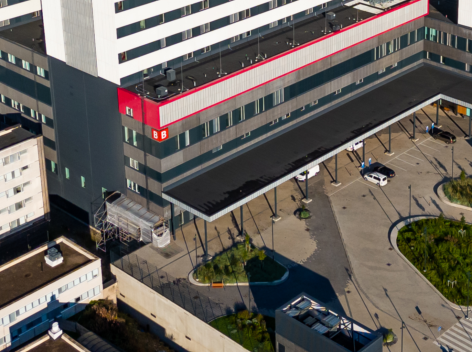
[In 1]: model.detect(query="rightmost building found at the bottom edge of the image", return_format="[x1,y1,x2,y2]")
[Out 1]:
[274,283,391,352]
